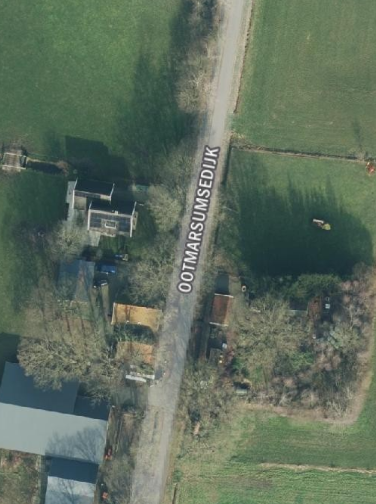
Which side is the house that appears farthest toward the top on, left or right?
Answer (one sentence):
The house that appears farthest toward the top is on the left side of the image.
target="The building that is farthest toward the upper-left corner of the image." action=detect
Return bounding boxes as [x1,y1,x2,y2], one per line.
[73,178,114,217]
